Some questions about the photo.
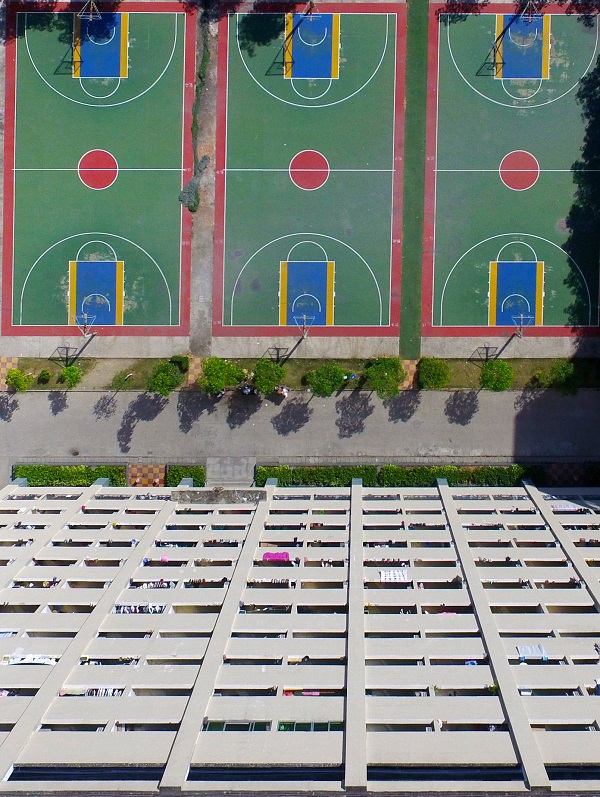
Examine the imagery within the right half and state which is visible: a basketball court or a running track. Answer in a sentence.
There is a basketball court within the right half.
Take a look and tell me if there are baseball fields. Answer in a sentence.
No, no baseball field can be seen from above.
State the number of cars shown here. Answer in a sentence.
The count of cars is 0.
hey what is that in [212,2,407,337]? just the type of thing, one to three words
basketball court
